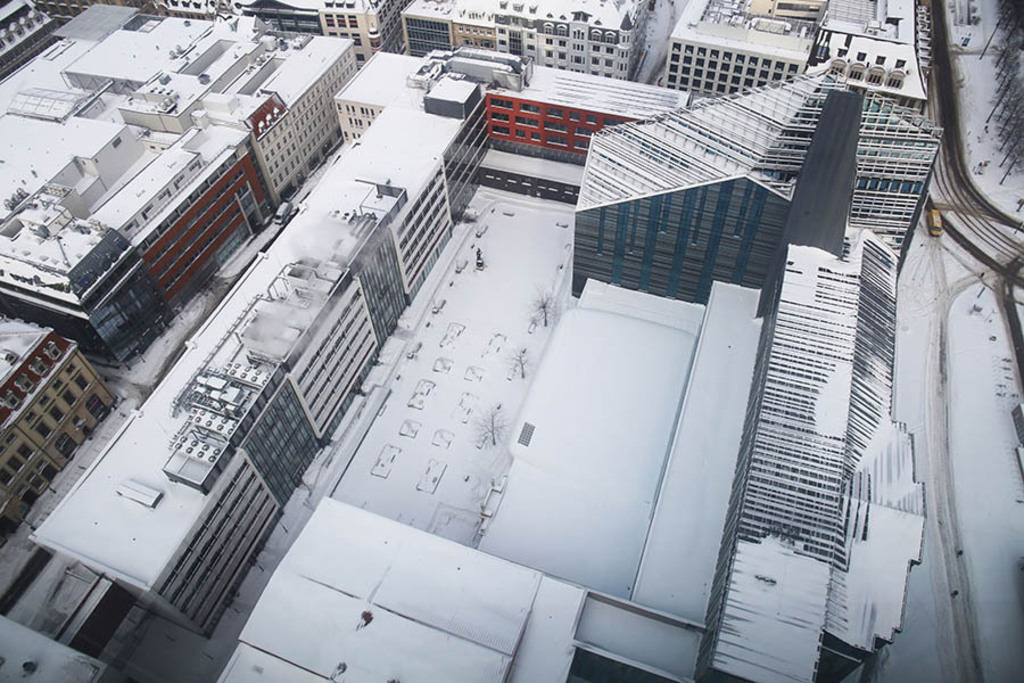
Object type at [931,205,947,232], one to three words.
vehicle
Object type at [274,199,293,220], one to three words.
vehicle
